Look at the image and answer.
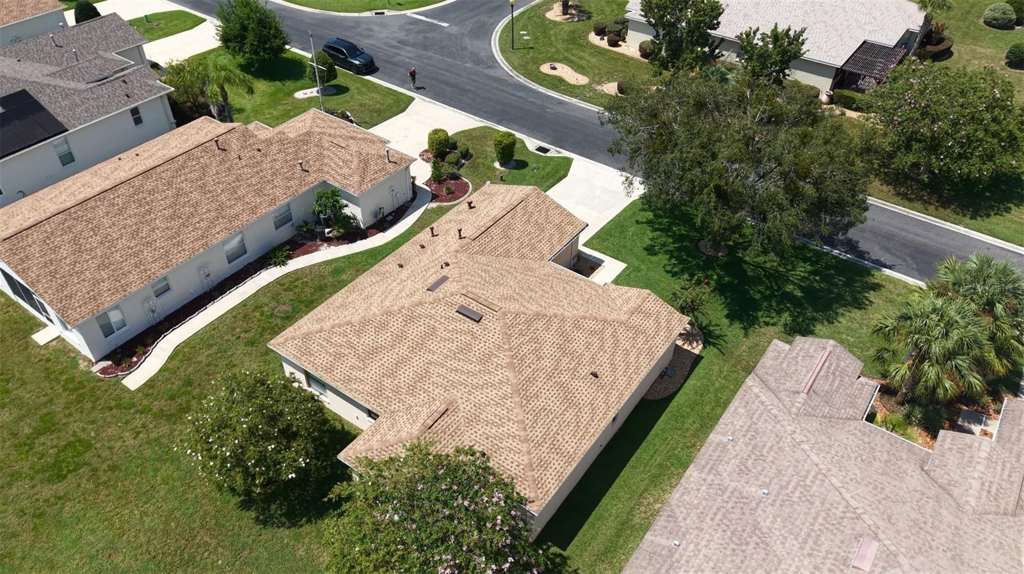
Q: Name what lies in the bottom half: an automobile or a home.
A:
home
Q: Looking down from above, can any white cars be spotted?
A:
No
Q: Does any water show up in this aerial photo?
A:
No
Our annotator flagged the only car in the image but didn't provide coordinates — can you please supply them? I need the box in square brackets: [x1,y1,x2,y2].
[323,37,378,72]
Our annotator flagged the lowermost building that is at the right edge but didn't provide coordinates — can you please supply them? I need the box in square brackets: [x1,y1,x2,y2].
[622,336,1024,574]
